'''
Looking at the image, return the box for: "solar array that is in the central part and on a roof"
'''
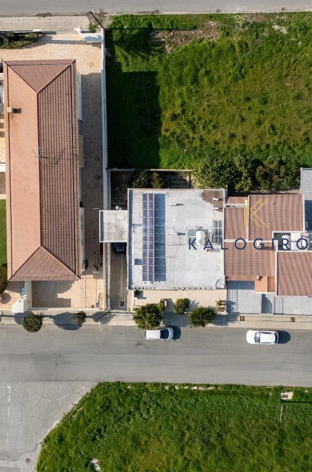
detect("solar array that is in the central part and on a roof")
[142,193,154,282]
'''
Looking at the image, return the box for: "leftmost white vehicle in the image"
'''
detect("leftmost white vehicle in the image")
[143,326,174,342]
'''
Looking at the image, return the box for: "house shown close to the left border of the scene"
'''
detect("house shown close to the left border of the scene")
[2,59,92,281]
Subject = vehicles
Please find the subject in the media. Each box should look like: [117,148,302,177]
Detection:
[246,329,278,346]
[112,242,128,264]
[143,326,174,342]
